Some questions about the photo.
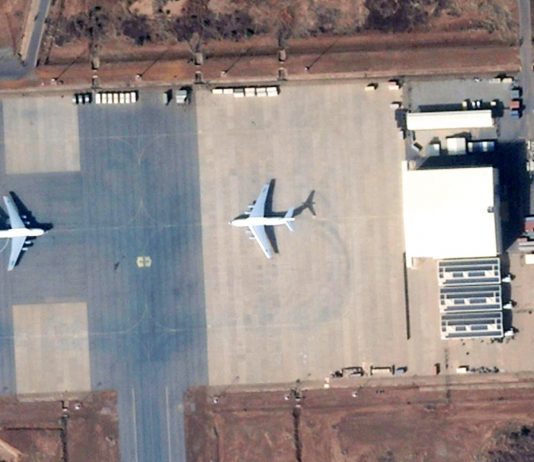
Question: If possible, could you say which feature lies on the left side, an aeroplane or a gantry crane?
aeroplane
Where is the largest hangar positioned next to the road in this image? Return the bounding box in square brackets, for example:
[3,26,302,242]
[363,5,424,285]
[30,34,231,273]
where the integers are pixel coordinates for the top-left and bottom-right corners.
[407,166,501,260]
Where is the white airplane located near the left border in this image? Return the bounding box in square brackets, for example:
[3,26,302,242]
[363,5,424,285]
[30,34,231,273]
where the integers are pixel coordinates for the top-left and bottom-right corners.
[0,198,44,271]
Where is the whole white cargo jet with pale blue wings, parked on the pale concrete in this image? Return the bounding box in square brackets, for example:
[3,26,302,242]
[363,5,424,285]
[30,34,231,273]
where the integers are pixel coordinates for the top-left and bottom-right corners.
[229,184,296,258]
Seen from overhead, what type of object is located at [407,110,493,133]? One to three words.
shed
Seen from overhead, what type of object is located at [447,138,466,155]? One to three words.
shed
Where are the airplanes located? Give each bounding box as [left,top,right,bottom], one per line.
[229,184,296,258]
[0,198,44,271]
